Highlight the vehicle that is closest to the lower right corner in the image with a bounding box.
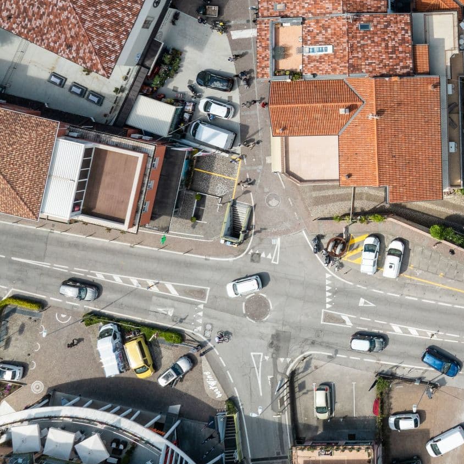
[426,424,464,456]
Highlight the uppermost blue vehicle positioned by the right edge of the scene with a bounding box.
[421,345,462,375]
